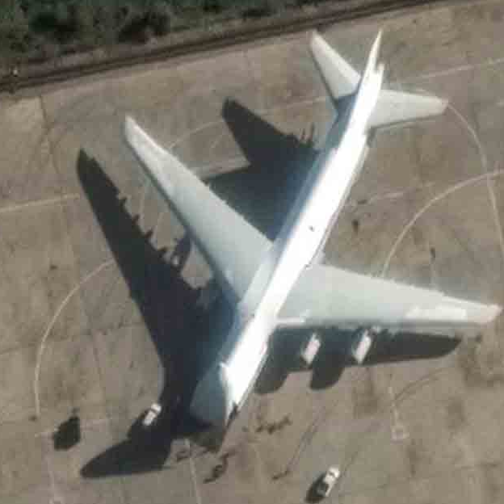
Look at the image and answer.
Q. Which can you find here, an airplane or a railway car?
airplane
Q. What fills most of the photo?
paved ground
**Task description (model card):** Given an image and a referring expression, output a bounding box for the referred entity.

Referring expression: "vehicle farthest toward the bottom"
[316,469,340,502]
